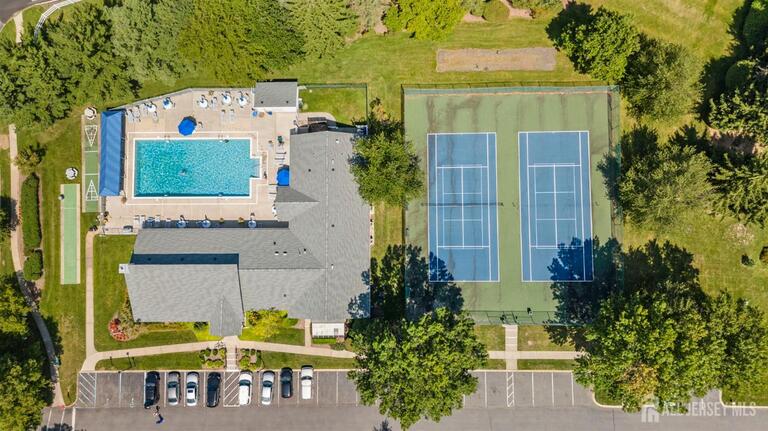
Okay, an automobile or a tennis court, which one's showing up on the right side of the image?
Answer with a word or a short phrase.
tennis court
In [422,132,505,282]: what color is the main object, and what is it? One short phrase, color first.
blue tennis court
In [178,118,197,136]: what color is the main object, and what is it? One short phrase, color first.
blue umbrella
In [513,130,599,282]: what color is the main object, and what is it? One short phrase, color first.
blue tennis court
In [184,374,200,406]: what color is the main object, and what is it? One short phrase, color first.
white car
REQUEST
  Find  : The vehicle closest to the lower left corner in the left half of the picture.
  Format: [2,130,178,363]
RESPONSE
[143,374,160,406]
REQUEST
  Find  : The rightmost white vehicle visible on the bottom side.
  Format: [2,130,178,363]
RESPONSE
[298,367,314,401]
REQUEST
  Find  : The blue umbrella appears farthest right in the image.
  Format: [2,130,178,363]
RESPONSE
[275,169,289,186]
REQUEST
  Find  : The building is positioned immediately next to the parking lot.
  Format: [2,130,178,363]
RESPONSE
[118,132,370,338]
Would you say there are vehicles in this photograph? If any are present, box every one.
[279,368,293,400]
[143,374,160,406]
[205,375,221,407]
[236,372,253,406]
[166,373,182,405]
[298,367,314,401]
[260,373,275,405]
[184,374,200,406]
